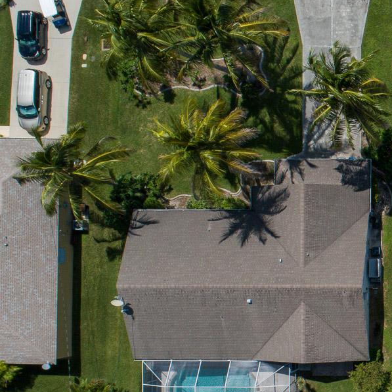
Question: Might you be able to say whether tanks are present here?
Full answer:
No, there appears to be no tank in this shot.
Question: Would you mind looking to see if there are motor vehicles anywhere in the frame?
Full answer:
Yes, looking at the shot, I can spot a motor vehicle.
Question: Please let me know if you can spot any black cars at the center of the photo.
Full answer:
No, there's no black car to be seen at the center of the photo.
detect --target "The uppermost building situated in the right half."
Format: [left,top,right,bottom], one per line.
[117,159,372,364]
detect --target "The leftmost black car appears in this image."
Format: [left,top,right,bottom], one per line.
[16,8,50,62]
